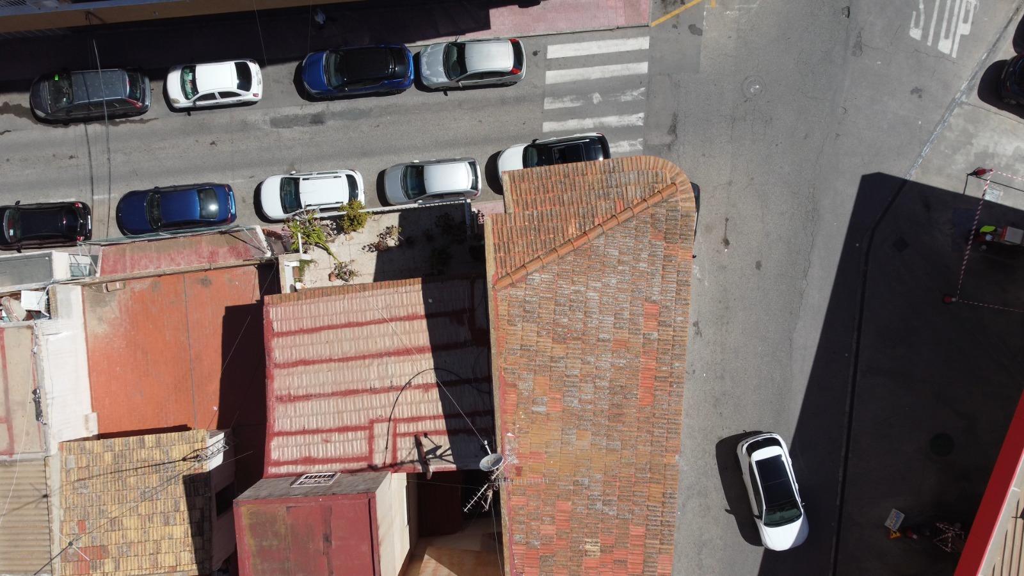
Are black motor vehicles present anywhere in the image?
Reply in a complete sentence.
Yes, I can see a black motor vehicle in this picture.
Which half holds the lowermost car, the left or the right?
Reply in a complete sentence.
The lowermost car sits on the right side.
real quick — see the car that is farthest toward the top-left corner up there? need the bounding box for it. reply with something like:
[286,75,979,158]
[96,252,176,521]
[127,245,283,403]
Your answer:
[29,67,151,127]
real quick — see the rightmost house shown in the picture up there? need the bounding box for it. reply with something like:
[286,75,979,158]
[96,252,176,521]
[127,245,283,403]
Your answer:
[486,154,697,576]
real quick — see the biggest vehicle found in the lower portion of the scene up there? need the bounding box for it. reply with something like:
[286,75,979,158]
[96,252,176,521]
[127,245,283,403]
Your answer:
[733,429,809,549]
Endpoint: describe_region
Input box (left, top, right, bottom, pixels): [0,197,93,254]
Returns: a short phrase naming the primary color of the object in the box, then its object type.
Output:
black car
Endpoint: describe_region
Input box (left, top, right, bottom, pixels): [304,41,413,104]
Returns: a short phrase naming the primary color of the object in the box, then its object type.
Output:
black car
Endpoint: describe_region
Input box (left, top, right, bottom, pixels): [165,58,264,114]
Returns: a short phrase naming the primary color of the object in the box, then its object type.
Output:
white car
